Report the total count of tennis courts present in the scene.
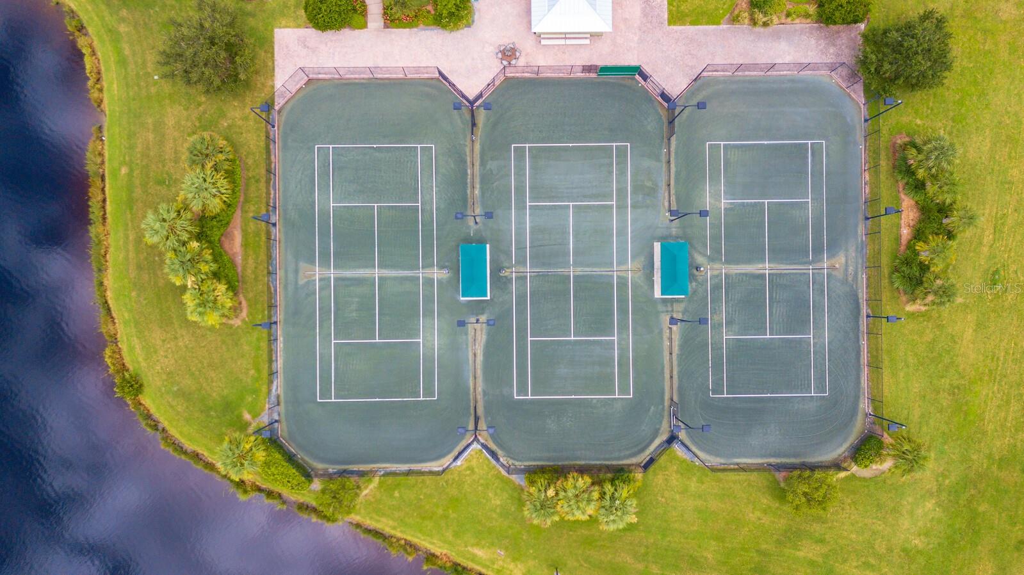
three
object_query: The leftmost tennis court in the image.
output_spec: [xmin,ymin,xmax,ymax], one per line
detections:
[279,79,476,470]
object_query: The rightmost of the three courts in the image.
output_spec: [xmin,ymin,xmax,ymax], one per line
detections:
[670,74,868,464]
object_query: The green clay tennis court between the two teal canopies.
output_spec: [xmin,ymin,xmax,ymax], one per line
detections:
[474,76,672,466]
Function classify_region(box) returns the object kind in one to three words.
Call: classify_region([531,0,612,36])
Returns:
building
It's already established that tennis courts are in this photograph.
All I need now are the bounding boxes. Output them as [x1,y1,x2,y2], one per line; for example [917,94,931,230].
[279,79,476,470]
[670,74,868,464]
[474,76,672,466]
